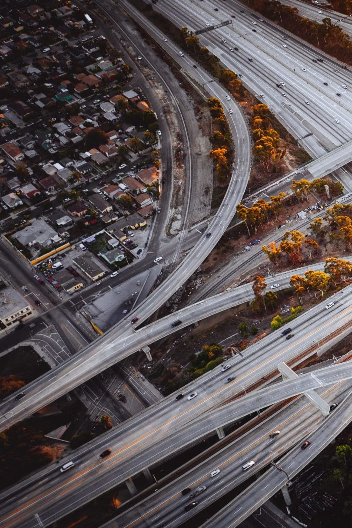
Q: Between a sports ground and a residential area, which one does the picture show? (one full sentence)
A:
The area seen from above is a residential area.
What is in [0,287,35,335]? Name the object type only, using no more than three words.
building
